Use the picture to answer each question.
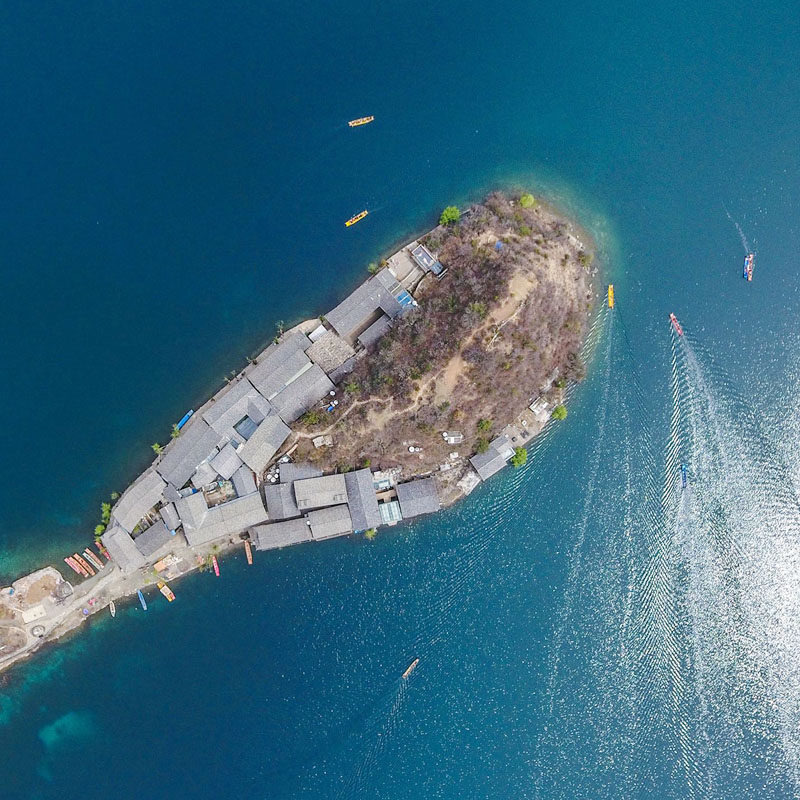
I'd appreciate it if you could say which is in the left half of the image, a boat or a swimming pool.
boat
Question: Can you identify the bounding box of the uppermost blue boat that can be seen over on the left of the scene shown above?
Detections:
[177,409,193,430]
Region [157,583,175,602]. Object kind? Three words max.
boat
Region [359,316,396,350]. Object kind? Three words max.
house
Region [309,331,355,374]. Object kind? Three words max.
house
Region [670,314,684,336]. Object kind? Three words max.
boat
